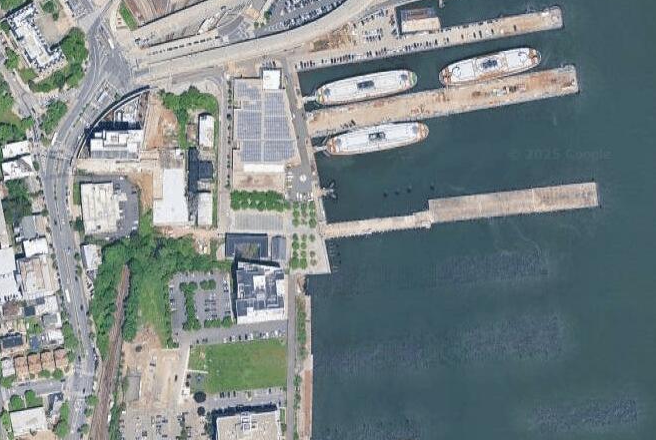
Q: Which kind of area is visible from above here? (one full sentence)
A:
This image shows a port.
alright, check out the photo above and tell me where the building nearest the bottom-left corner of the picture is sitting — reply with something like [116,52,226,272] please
[10,407,47,438]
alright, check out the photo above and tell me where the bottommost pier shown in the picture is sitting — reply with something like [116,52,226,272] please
[324,209,433,240]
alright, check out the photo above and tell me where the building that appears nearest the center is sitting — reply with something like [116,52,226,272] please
[272,236,286,262]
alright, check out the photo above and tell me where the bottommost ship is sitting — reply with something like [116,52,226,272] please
[324,124,430,161]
